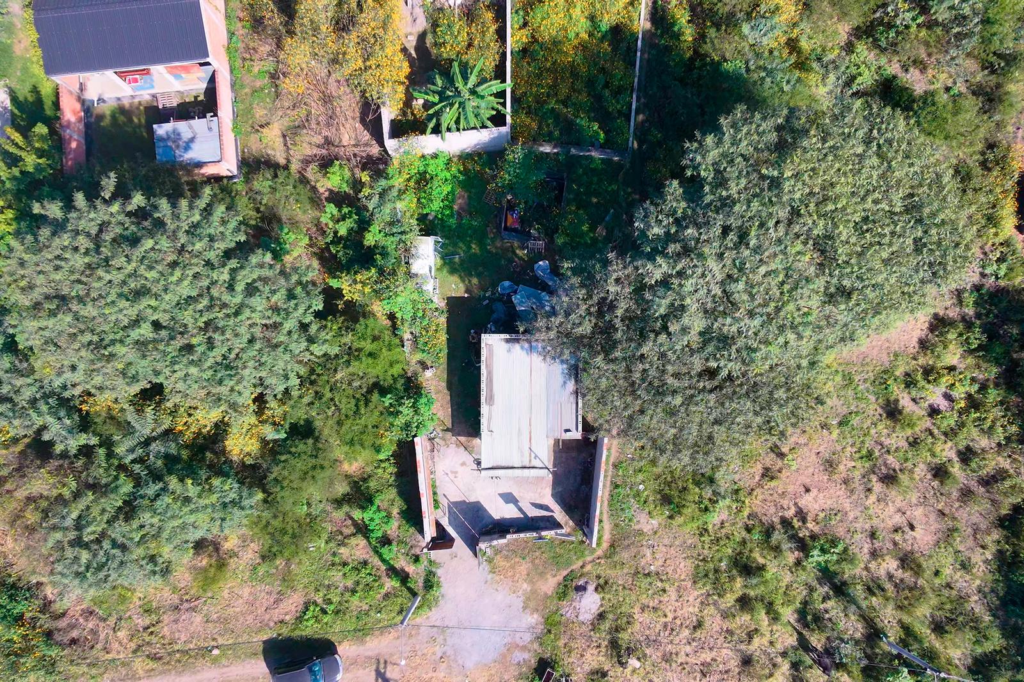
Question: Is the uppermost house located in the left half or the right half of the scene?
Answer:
left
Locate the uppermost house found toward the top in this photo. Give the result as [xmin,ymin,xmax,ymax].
[33,0,232,105]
